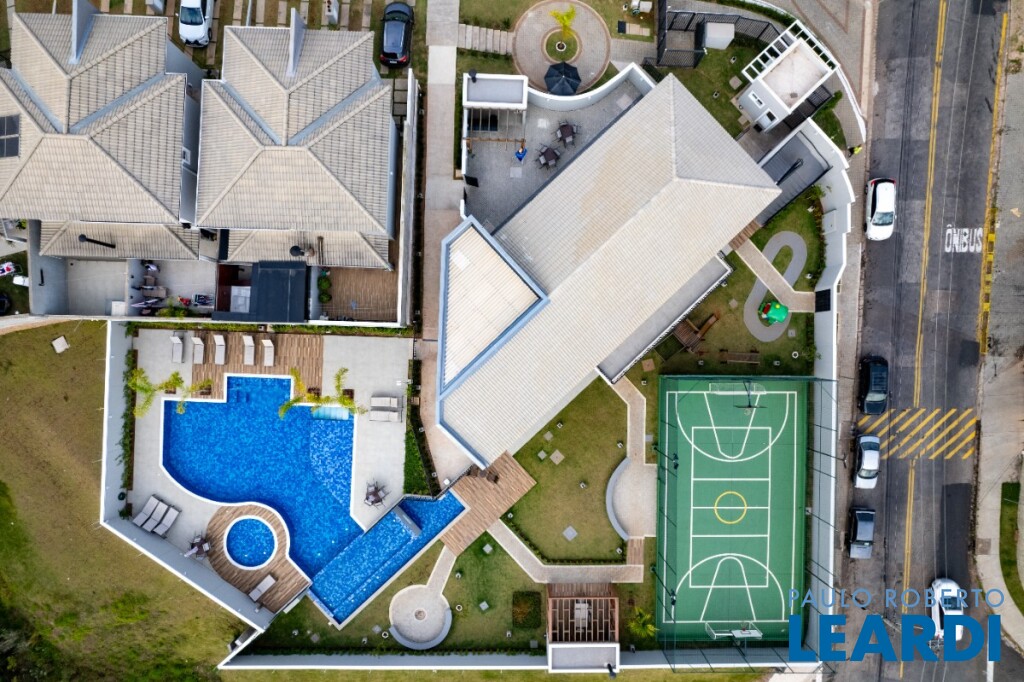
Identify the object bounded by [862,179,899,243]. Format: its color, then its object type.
white car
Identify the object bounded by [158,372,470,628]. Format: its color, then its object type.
blue swimming pool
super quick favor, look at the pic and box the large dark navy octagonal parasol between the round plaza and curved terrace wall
[545,62,580,97]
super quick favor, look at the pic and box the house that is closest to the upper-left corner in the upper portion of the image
[0,0,217,259]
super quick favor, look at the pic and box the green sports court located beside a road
[656,376,806,641]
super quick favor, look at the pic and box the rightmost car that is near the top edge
[382,2,415,69]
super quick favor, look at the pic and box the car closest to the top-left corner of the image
[175,0,214,50]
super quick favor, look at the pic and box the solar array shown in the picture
[1,114,18,158]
